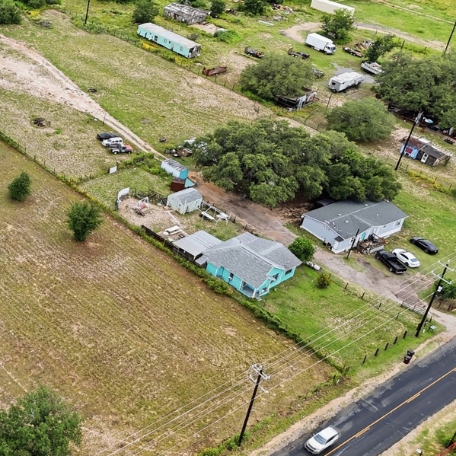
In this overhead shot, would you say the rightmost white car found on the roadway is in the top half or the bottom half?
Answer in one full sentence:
It is in the bottom half that the rightmost white car found on the roadway appears.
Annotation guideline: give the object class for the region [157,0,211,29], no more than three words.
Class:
house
